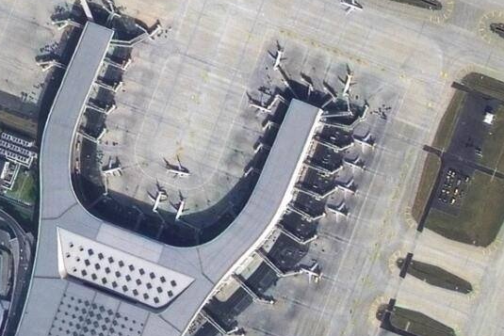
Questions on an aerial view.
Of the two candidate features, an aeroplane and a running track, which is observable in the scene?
aeroplane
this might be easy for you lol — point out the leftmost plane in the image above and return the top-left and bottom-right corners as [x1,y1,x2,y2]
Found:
[103,158,123,179]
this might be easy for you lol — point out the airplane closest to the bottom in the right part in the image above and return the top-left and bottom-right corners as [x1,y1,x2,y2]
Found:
[302,263,324,284]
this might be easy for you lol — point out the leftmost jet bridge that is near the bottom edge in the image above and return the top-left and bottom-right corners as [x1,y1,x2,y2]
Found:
[201,312,245,336]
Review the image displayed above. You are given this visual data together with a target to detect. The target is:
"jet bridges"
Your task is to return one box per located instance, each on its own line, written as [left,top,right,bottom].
[315,140,355,153]
[97,81,123,92]
[297,184,337,199]
[322,106,368,129]
[106,59,132,71]
[95,176,109,214]
[51,21,82,31]
[278,226,319,244]
[254,144,271,153]
[233,276,275,303]
[304,163,344,177]
[269,94,289,111]
[79,131,108,143]
[37,62,65,72]
[288,205,327,221]
[244,167,259,176]
[320,88,339,109]
[201,312,245,336]
[113,23,164,47]
[256,251,302,275]
[276,71,298,97]
[87,105,117,115]
[301,77,312,103]
[100,0,122,24]
[321,95,352,118]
